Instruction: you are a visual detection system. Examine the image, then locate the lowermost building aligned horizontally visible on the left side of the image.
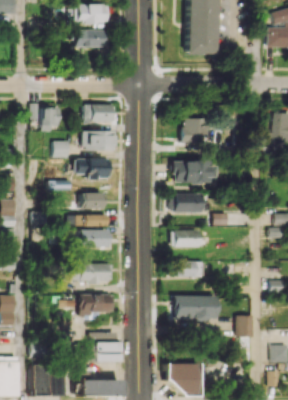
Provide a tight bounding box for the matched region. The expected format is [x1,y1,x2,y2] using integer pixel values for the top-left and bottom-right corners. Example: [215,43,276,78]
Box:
[84,379,126,396]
